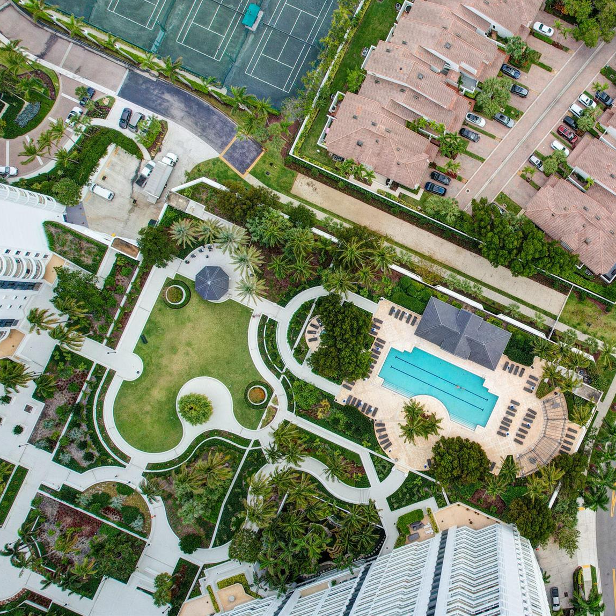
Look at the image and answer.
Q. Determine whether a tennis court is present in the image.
Yes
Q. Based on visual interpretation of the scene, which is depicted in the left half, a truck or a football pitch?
truck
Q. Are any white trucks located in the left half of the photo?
Yes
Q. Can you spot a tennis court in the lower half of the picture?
No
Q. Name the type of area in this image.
residential area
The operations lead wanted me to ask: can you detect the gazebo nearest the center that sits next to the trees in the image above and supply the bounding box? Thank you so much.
[195,266,232,299]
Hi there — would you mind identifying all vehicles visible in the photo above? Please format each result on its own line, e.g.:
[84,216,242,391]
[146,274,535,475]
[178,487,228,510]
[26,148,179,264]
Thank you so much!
[460,128,481,143]
[494,112,516,129]
[65,107,83,127]
[596,91,614,107]
[532,21,555,38]
[561,115,578,131]
[118,107,133,128]
[577,93,598,105]
[556,124,578,144]
[500,63,522,79]
[143,156,176,201]
[89,184,115,201]
[466,112,487,127]
[0,164,18,176]
[128,112,144,133]
[527,153,544,171]
[511,84,529,98]
[568,103,586,118]
[133,160,156,187]
[429,170,453,186]
[424,181,446,196]
[549,140,571,155]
